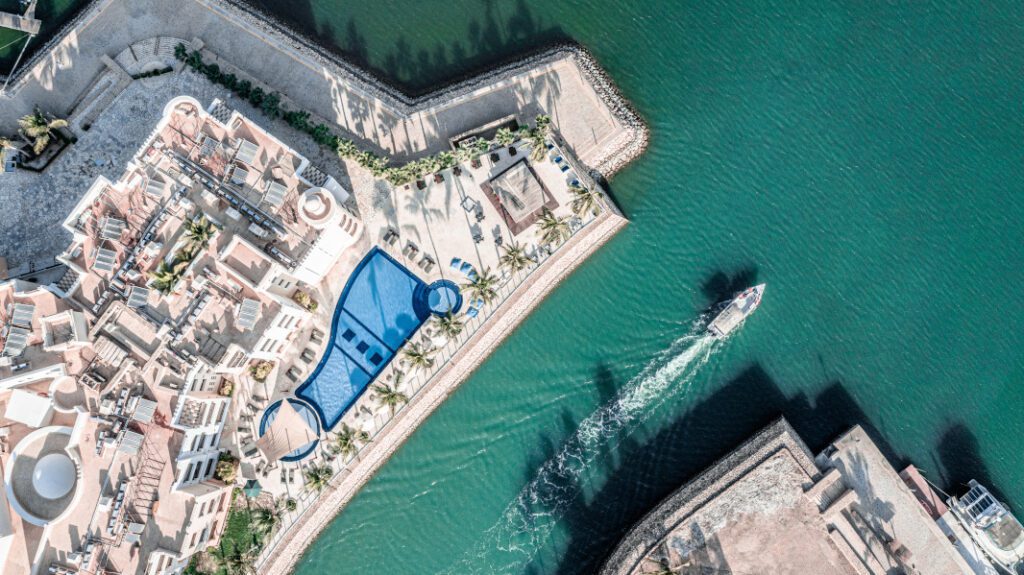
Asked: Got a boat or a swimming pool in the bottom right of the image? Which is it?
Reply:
boat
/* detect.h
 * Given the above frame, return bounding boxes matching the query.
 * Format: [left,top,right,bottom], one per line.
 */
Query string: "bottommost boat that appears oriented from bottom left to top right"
[708,283,766,339]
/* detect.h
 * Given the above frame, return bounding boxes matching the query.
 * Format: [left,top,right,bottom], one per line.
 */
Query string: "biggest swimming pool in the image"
[296,247,431,433]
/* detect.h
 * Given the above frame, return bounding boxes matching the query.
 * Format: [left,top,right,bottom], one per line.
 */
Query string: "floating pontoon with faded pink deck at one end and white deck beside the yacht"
[897,464,995,575]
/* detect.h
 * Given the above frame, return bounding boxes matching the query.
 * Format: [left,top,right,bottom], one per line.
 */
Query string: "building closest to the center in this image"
[482,157,559,236]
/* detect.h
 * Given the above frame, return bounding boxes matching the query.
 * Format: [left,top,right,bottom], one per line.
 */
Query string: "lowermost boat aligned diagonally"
[946,475,1024,572]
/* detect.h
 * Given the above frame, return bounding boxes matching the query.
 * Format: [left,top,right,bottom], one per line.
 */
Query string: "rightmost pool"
[427,280,462,315]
